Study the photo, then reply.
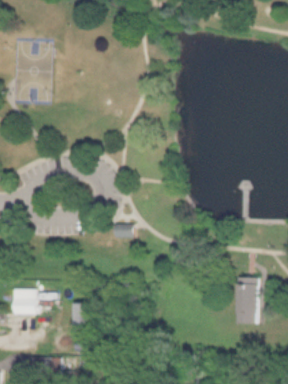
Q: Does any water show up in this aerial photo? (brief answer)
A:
Yes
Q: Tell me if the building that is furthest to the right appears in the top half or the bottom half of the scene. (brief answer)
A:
bottom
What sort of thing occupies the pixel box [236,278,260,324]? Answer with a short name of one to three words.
building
